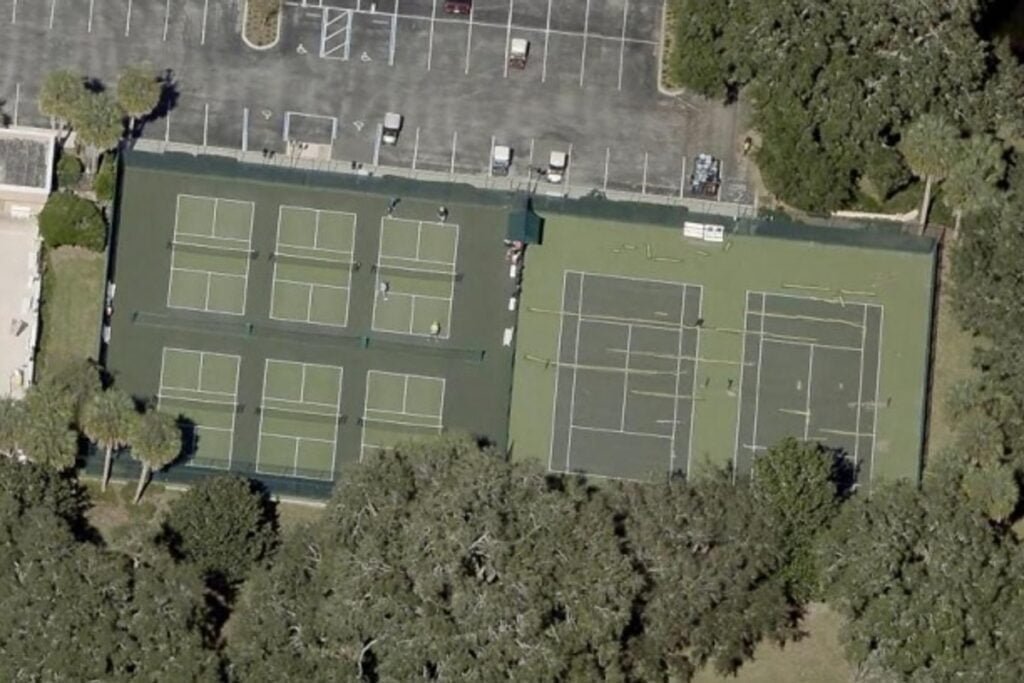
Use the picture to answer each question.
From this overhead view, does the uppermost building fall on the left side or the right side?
left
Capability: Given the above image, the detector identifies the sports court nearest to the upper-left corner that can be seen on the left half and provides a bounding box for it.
[168,195,254,315]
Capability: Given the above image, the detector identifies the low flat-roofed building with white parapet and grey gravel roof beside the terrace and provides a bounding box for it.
[0,127,55,220]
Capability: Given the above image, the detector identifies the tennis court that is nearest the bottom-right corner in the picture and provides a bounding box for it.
[734,282,887,505]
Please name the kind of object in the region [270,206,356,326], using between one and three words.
sports court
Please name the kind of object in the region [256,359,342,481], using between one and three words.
sports court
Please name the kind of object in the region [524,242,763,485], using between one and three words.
tennis court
